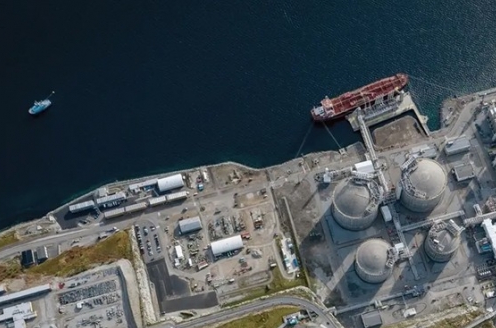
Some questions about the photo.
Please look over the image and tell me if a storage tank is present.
Yes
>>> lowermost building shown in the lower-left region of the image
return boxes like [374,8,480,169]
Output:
[0,301,38,328]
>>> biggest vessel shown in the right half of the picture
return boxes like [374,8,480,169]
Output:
[309,76,409,123]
